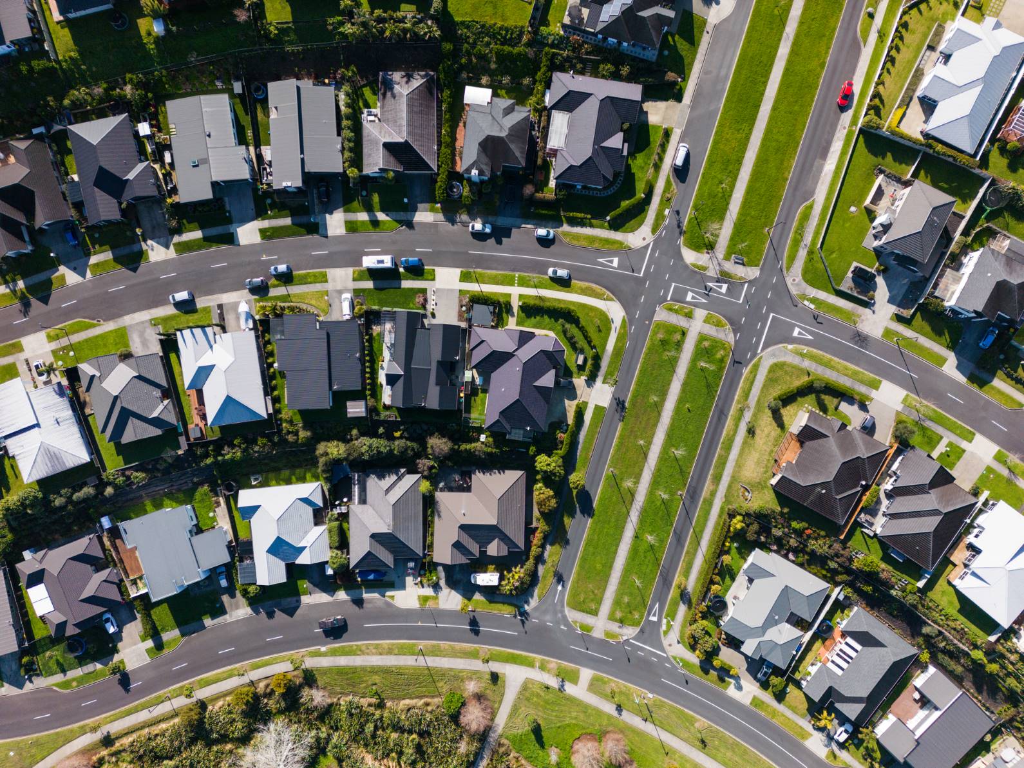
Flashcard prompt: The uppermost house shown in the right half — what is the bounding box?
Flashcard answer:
[562,0,676,57]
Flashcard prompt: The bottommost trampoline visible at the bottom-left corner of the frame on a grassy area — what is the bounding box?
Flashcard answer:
[60,637,86,659]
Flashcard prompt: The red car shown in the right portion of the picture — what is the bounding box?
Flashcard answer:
[835,82,854,107]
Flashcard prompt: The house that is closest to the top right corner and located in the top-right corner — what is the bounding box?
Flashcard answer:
[914,15,1024,154]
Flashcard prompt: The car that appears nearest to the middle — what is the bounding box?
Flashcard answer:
[554,376,578,388]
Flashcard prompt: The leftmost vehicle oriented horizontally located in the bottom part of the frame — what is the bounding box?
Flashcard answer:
[317,615,347,631]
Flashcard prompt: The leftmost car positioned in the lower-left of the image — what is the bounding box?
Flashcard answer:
[102,610,119,636]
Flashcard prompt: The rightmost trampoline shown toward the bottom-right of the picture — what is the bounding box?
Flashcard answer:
[817,620,838,641]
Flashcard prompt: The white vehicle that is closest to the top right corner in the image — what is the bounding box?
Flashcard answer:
[672,143,688,170]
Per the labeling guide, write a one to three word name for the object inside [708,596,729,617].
trampoline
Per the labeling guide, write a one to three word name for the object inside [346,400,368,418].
shed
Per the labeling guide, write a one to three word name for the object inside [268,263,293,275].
vehicle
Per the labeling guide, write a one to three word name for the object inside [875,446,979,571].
house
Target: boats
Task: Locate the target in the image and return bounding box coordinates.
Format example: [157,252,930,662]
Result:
[238,299,253,331]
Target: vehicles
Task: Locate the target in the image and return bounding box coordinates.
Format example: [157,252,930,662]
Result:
[832,717,854,745]
[399,256,423,268]
[341,294,353,318]
[546,268,571,279]
[857,409,875,434]
[102,610,119,636]
[244,277,268,290]
[268,263,293,275]
[32,358,49,382]
[533,229,555,240]
[171,292,194,304]
[756,660,773,685]
[363,255,396,269]
[468,224,492,234]
[835,82,854,107]
[216,565,231,589]
[850,264,876,281]
[554,376,578,388]
[317,615,347,631]
[672,143,688,170]
[471,571,499,586]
